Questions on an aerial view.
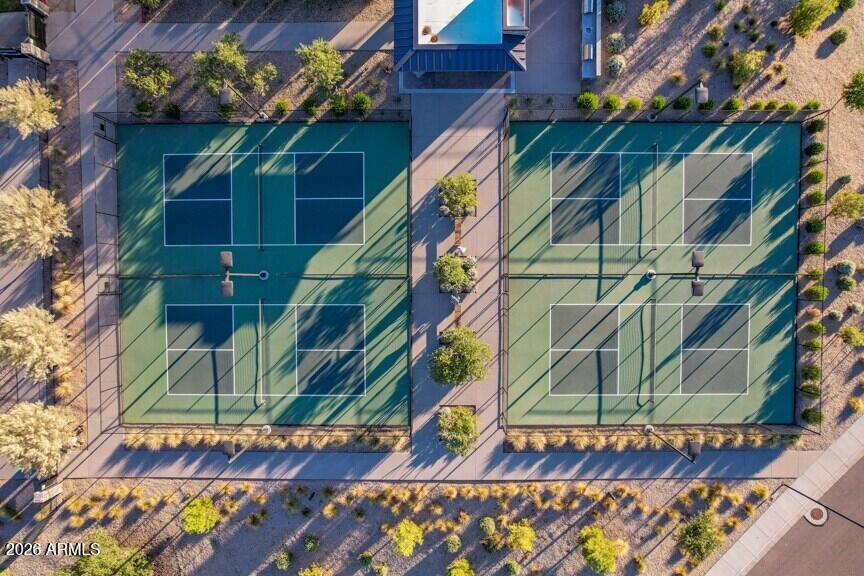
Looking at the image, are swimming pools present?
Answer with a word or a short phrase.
No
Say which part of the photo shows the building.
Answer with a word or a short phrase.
top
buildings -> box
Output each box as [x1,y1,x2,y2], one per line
[393,0,532,93]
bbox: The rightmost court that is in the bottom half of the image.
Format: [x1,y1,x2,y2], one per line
[508,276,799,427]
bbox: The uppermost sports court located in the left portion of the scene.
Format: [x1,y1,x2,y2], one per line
[116,122,408,275]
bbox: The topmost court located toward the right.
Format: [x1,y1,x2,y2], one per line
[508,122,801,275]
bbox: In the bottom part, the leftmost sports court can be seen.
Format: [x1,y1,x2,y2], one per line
[119,276,408,427]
